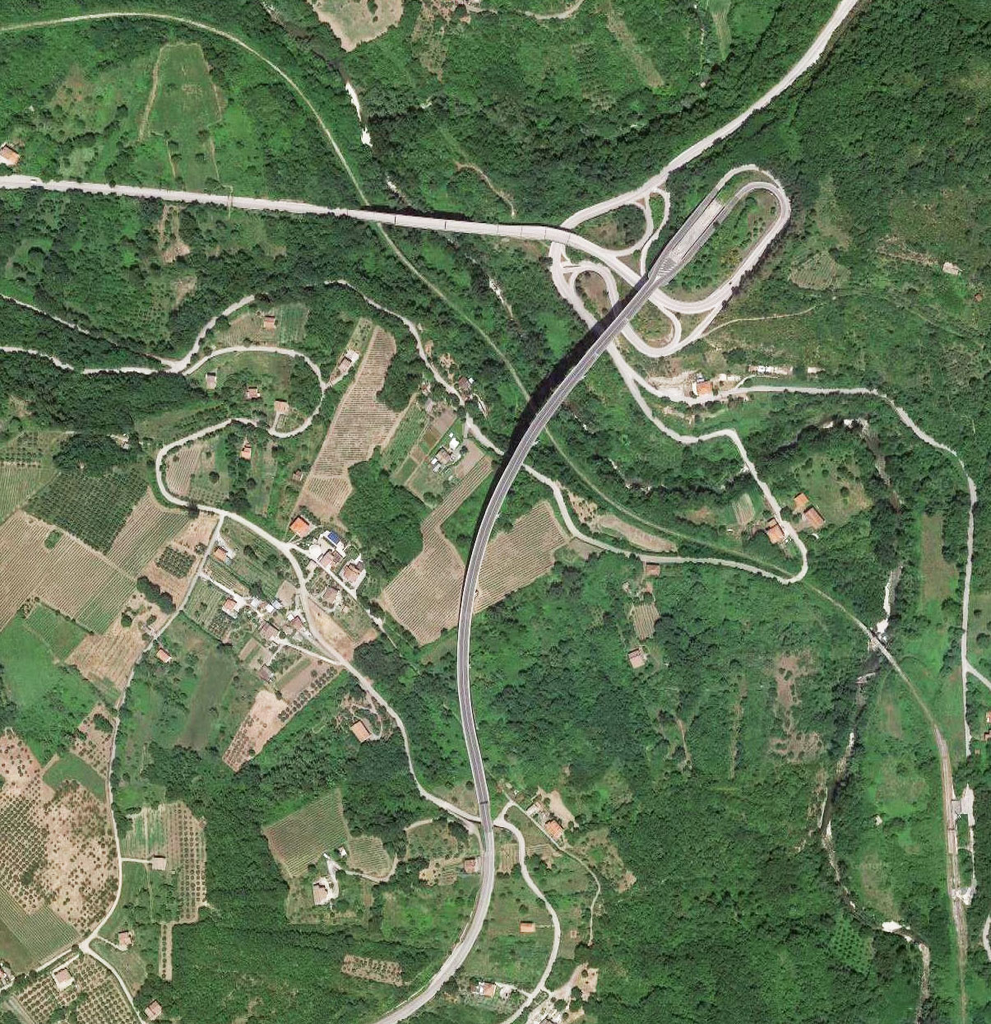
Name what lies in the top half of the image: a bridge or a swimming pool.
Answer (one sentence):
There is a bridge in the top half of the image.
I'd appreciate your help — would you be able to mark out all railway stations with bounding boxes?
[943,761,976,931]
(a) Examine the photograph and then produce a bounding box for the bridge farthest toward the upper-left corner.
[349,207,585,251]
